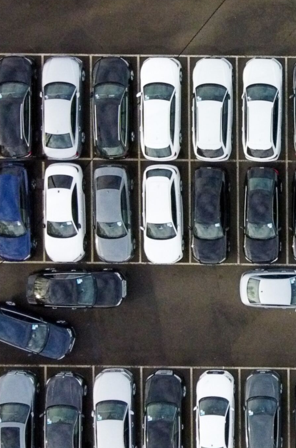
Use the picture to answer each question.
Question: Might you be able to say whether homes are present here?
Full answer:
No, the scene contains no home.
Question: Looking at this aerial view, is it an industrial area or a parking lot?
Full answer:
This looks like a parking lot.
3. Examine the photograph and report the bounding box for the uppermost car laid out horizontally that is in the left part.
[27,266,127,315]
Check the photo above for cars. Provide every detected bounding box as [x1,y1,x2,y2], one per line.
[27,266,127,315]
[37,56,87,159]
[0,371,42,448]
[137,164,185,263]
[88,165,136,263]
[138,370,185,448]
[238,58,285,162]
[0,164,37,261]
[89,367,139,448]
[241,269,296,310]
[39,371,89,448]
[240,368,286,448]
[0,56,42,157]
[136,57,183,160]
[191,370,238,448]
[0,298,80,359]
[187,57,235,162]
[185,166,233,264]
[39,163,89,263]
[86,57,134,158]
[238,166,285,264]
